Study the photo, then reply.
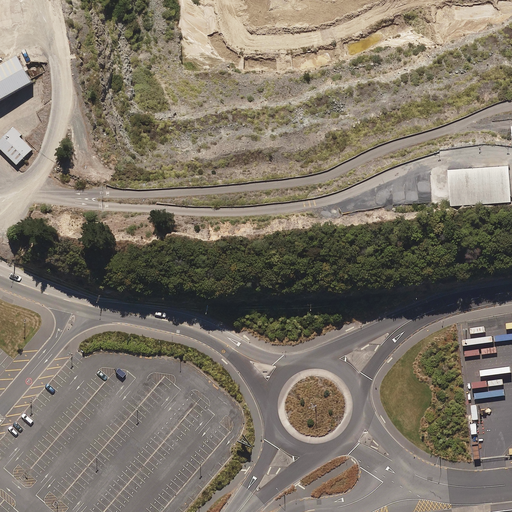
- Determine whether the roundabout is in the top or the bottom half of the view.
bottom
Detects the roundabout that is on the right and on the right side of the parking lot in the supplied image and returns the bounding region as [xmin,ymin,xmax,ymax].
[260,350,372,462]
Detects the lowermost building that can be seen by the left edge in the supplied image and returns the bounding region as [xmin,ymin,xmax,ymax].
[0,126,34,165]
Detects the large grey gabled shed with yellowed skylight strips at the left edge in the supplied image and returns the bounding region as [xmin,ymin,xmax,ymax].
[0,54,32,98]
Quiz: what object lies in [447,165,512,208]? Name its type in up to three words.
building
